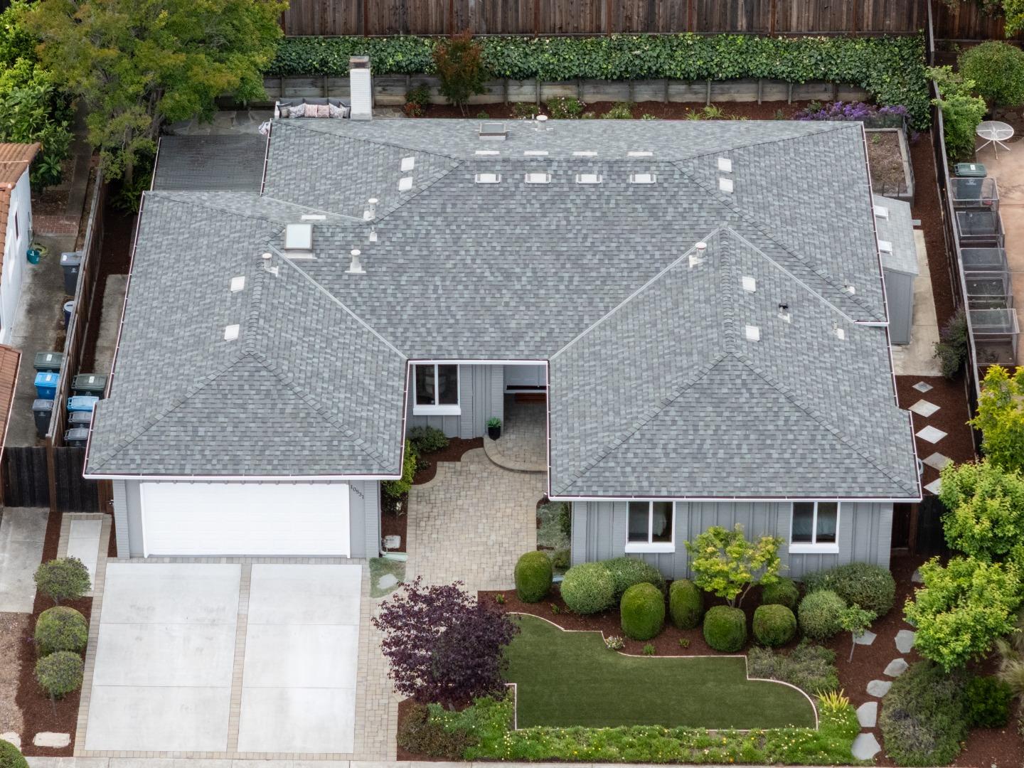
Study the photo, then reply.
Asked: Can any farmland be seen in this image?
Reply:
No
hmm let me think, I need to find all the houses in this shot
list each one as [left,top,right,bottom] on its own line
[83,50,921,581]
[0,141,40,484]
